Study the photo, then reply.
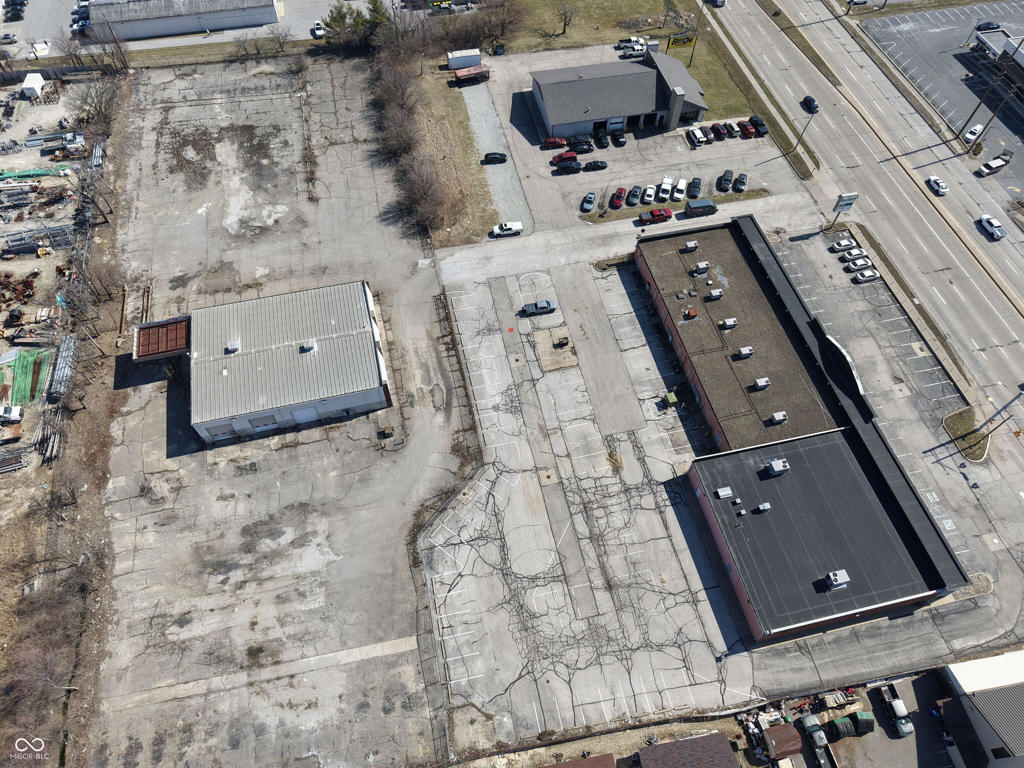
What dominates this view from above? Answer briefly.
paved ground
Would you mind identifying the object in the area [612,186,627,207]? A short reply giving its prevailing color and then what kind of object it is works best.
red car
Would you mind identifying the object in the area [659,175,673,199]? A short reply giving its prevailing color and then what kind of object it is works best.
white vehicle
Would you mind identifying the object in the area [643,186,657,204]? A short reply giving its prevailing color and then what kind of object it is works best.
white car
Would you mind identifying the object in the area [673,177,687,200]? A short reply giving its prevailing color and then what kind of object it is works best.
white vehicle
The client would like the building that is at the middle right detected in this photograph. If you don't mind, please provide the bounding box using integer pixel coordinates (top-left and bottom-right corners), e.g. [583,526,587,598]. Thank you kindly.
[634,211,975,642]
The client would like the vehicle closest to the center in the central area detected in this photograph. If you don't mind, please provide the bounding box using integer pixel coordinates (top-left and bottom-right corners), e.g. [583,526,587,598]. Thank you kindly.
[523,299,558,316]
